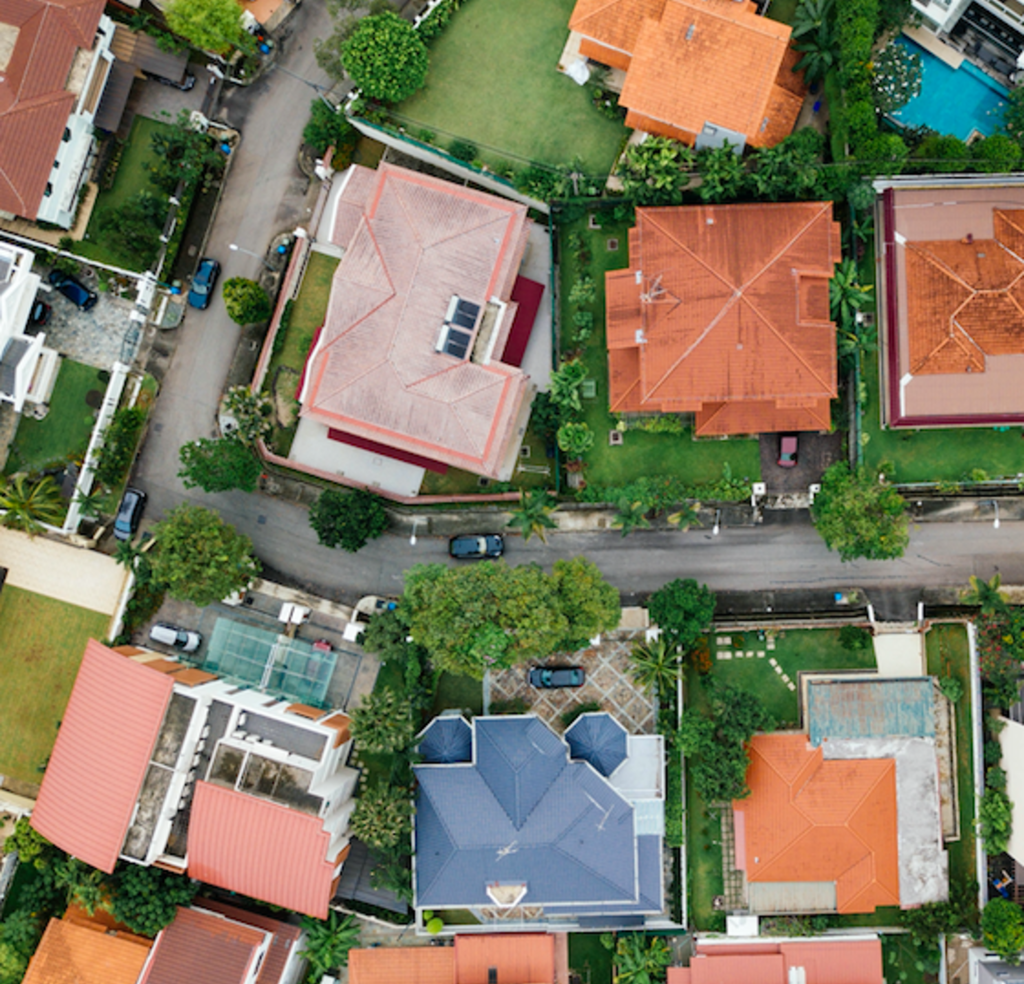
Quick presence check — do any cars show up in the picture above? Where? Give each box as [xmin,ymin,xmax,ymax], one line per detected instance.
[529,664,585,690]
[146,620,205,653]
[448,533,504,559]
[187,256,221,311]
[113,485,149,541]
[135,68,193,94]
[29,299,55,325]
[775,431,800,469]
[47,269,103,311]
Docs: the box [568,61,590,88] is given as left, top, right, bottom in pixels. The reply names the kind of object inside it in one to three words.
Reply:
umbrella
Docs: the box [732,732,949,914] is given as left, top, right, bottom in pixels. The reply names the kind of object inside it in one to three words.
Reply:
house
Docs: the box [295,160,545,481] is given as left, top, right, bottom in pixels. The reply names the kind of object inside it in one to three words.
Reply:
house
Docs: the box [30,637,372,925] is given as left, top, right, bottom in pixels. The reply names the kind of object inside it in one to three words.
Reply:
building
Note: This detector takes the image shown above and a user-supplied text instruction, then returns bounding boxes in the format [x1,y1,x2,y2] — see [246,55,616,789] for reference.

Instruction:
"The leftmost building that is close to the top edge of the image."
[0,0,129,232]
